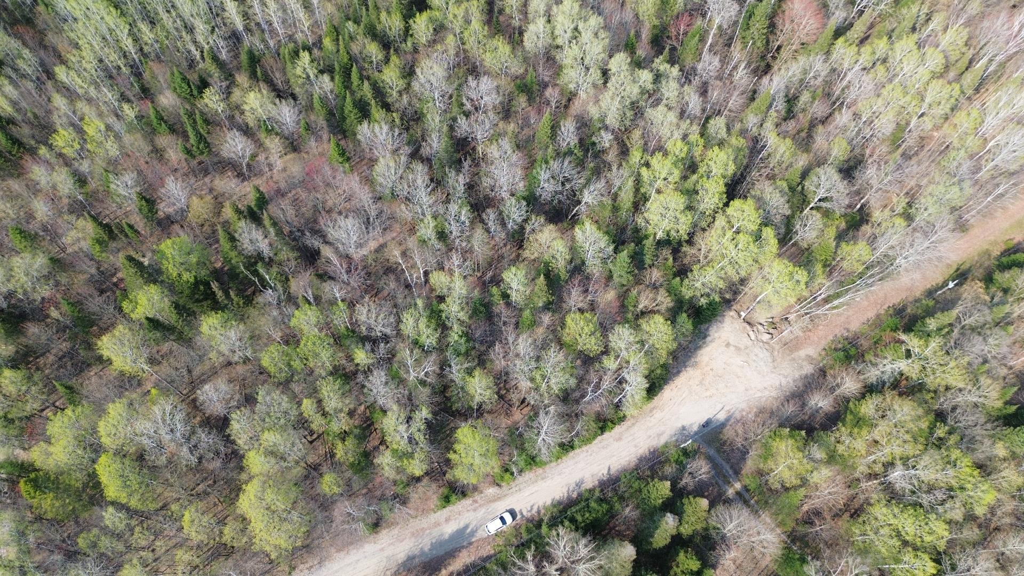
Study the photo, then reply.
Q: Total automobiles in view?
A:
1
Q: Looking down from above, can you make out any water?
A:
No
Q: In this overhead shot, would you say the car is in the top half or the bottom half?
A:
bottom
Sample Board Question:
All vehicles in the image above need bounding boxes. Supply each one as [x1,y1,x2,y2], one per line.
[485,512,513,536]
